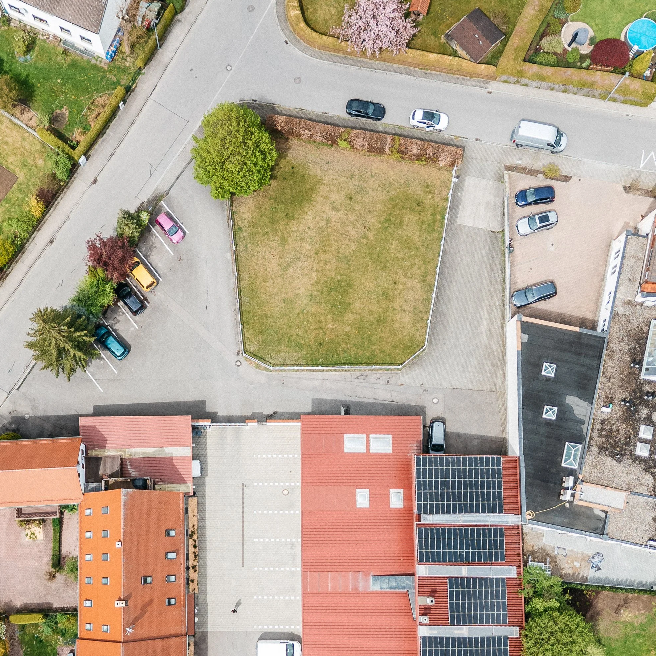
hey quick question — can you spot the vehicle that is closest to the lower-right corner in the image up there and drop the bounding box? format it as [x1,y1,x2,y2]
[427,419,448,453]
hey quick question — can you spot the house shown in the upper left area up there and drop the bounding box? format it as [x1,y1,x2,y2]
[0,0,130,54]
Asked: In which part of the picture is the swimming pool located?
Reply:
top right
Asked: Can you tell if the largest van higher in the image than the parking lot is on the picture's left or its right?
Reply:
right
